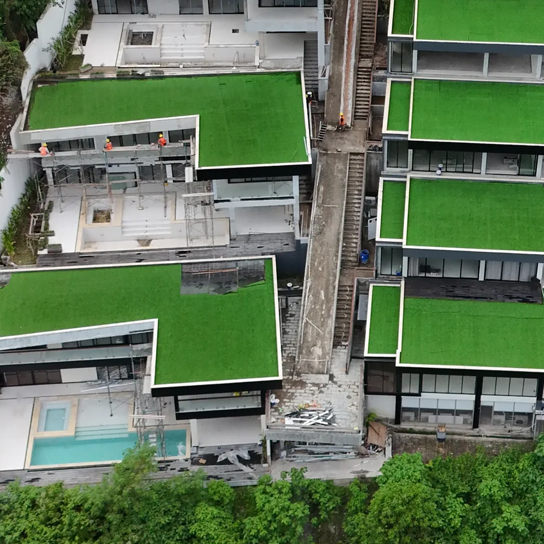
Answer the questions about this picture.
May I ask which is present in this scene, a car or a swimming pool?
swimming pool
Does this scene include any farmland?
No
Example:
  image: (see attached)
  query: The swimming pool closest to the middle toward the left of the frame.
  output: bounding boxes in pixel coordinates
[77,192,230,251]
